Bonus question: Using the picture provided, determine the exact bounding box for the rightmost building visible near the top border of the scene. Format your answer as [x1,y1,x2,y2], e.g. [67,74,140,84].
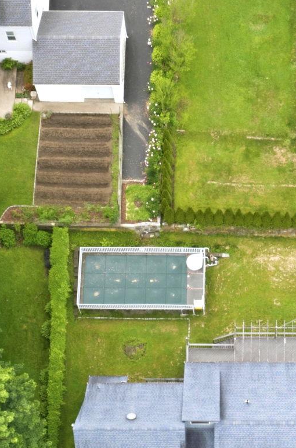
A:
[29,10,127,106]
